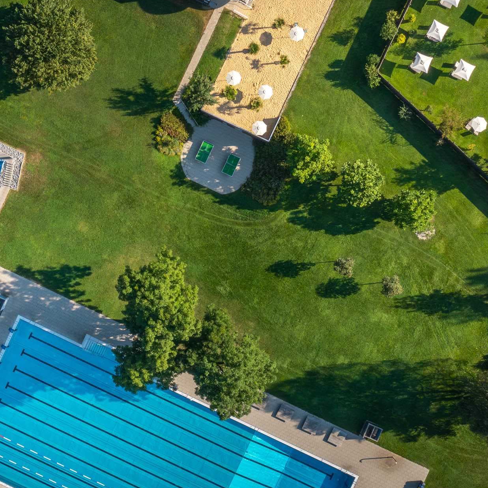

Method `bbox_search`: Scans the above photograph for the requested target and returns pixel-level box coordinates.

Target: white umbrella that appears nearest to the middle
[252,120,267,135]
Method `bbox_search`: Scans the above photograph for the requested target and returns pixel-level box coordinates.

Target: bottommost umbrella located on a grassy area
[468,118,485,133]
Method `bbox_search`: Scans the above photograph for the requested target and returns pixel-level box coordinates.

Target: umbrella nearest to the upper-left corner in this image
[225,71,241,86]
